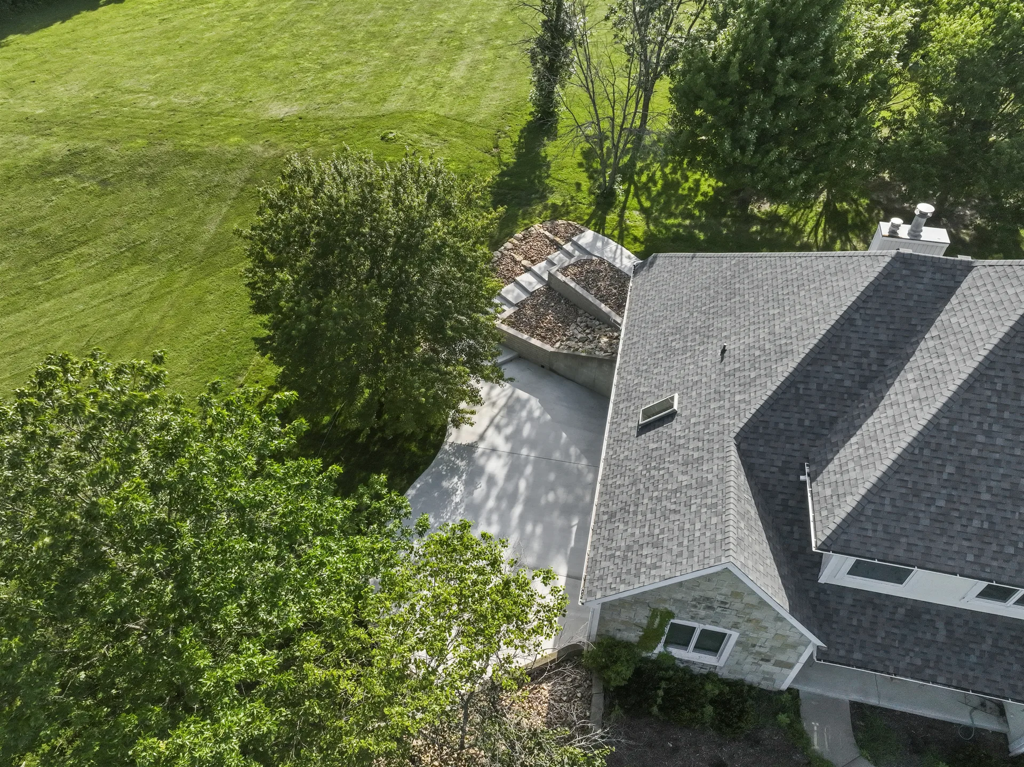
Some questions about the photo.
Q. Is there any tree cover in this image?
Yes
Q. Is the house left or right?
right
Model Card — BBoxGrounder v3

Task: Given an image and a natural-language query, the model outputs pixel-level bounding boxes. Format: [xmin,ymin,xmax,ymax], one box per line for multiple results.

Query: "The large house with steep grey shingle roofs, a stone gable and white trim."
[576,203,1024,765]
